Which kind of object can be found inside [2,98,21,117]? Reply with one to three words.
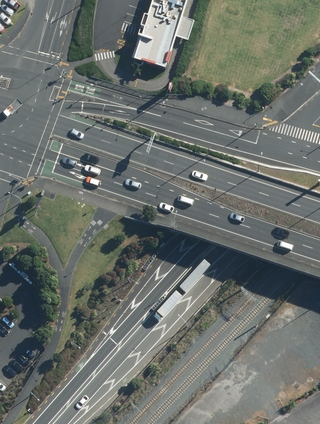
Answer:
vehicle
